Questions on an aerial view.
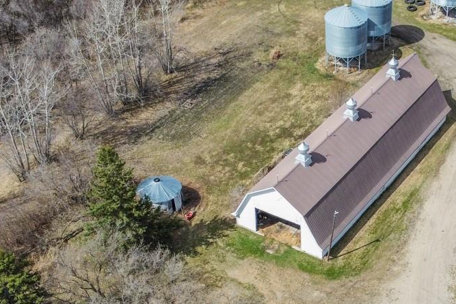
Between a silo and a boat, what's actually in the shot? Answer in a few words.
silo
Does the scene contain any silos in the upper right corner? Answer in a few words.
Yes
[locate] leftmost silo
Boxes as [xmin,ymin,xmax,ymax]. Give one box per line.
[326,3,366,71]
